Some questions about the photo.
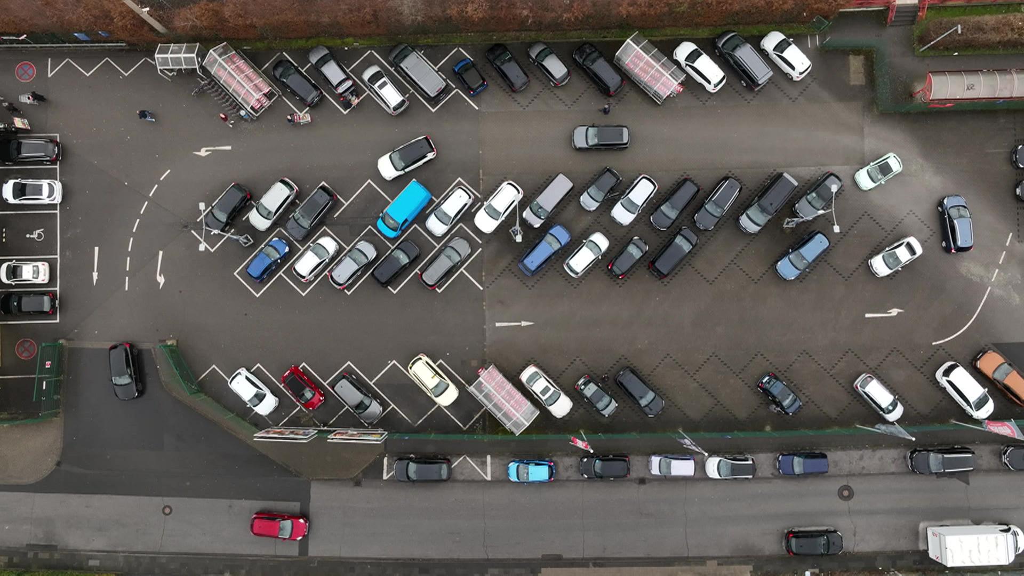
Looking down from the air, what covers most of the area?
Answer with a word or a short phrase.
paved ground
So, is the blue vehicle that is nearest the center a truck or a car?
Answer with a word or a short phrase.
car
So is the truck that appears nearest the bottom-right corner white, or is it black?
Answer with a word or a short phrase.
white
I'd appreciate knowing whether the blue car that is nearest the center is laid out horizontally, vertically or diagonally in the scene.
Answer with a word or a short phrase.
diagonally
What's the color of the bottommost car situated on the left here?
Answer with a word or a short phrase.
red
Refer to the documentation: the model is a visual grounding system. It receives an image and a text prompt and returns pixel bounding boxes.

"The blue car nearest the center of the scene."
[519,225,568,277]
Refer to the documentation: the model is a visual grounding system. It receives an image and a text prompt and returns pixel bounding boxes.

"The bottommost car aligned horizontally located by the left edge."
[0,292,60,320]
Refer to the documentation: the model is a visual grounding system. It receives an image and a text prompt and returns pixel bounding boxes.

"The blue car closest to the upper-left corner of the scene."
[246,238,291,282]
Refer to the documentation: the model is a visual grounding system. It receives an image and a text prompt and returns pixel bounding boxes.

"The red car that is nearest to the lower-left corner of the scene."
[250,511,310,543]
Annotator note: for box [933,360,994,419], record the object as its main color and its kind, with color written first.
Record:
white car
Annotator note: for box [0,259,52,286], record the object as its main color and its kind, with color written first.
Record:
white car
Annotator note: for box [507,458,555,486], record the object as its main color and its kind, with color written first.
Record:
blue car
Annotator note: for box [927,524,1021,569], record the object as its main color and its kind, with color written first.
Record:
white truck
